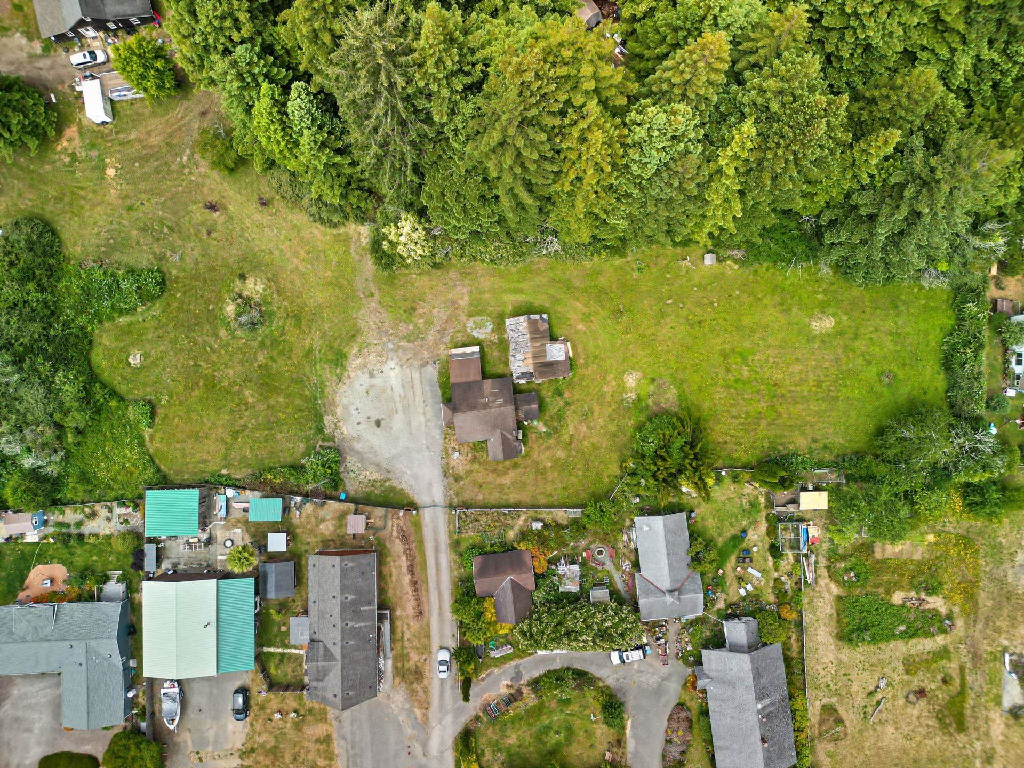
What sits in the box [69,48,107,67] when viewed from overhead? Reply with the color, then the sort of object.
white car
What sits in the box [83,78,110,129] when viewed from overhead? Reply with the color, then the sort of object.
white trailer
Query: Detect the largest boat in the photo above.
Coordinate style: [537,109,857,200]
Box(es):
[160,682,178,731]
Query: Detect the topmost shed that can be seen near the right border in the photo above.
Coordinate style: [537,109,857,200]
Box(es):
[989,300,1012,314]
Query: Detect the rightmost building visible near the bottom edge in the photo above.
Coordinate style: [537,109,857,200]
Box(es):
[692,615,797,768]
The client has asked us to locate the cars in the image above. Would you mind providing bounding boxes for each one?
[232,689,248,719]
[611,647,646,665]
[69,48,107,67]
[436,648,451,679]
